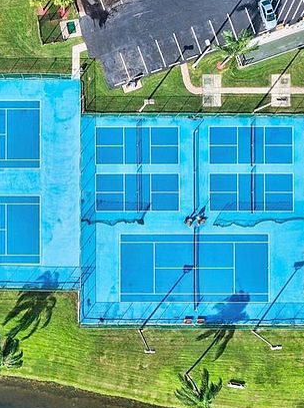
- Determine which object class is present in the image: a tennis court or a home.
tennis court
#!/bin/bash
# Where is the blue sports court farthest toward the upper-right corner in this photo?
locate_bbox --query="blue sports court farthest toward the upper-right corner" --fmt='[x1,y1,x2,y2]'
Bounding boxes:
[210,127,293,164]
